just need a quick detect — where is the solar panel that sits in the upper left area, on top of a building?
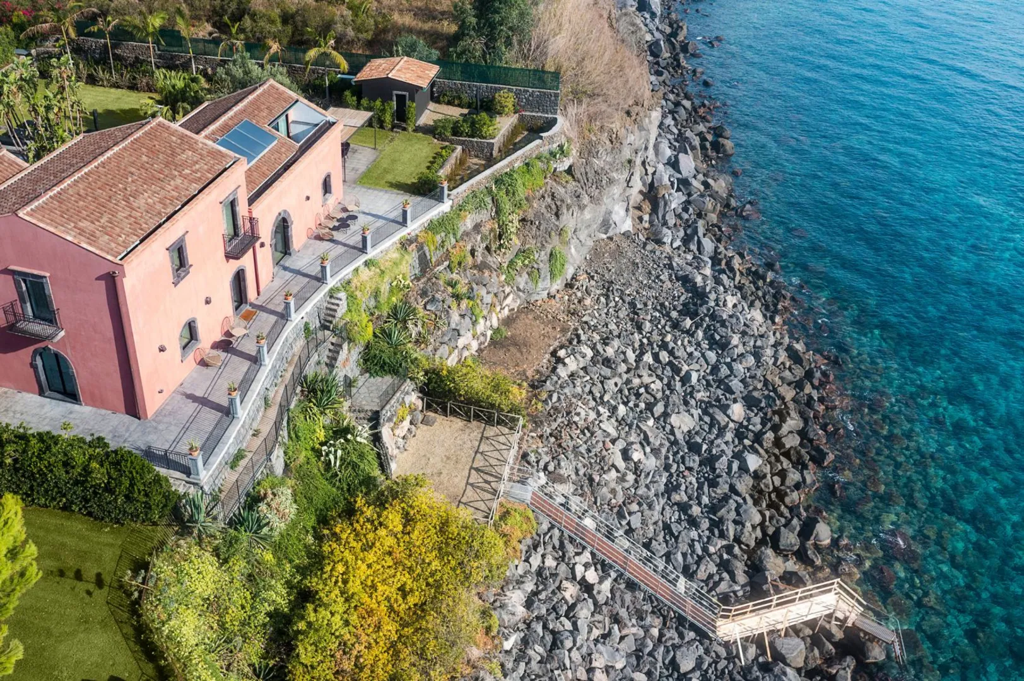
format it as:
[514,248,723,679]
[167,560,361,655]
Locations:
[216,116,282,164]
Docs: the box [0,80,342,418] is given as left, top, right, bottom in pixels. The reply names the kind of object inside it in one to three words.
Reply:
house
